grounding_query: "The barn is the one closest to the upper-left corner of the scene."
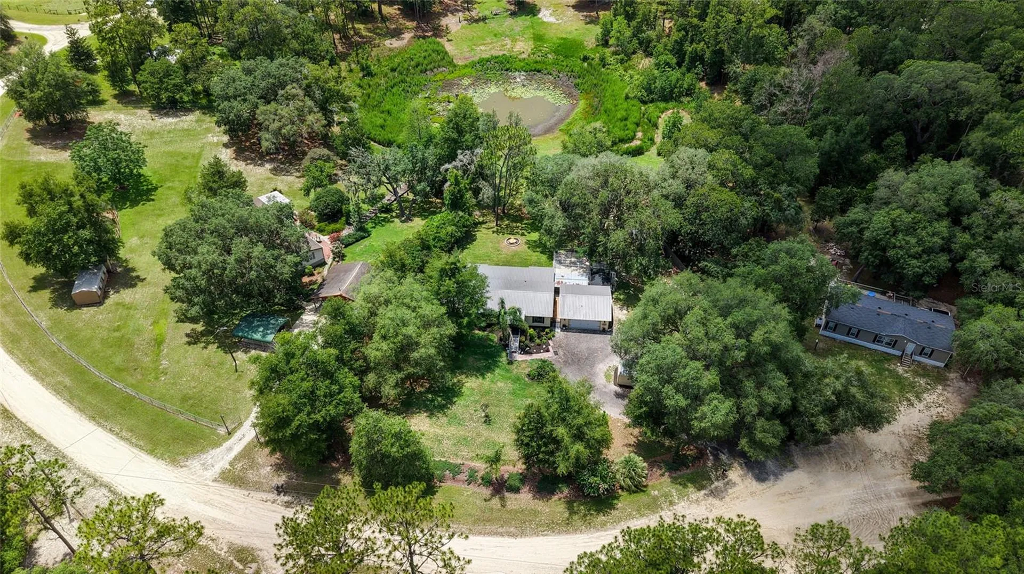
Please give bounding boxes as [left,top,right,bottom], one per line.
[69,258,109,306]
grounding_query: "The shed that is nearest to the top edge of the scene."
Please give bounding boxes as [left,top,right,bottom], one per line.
[258,191,292,213]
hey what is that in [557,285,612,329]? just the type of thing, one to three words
building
